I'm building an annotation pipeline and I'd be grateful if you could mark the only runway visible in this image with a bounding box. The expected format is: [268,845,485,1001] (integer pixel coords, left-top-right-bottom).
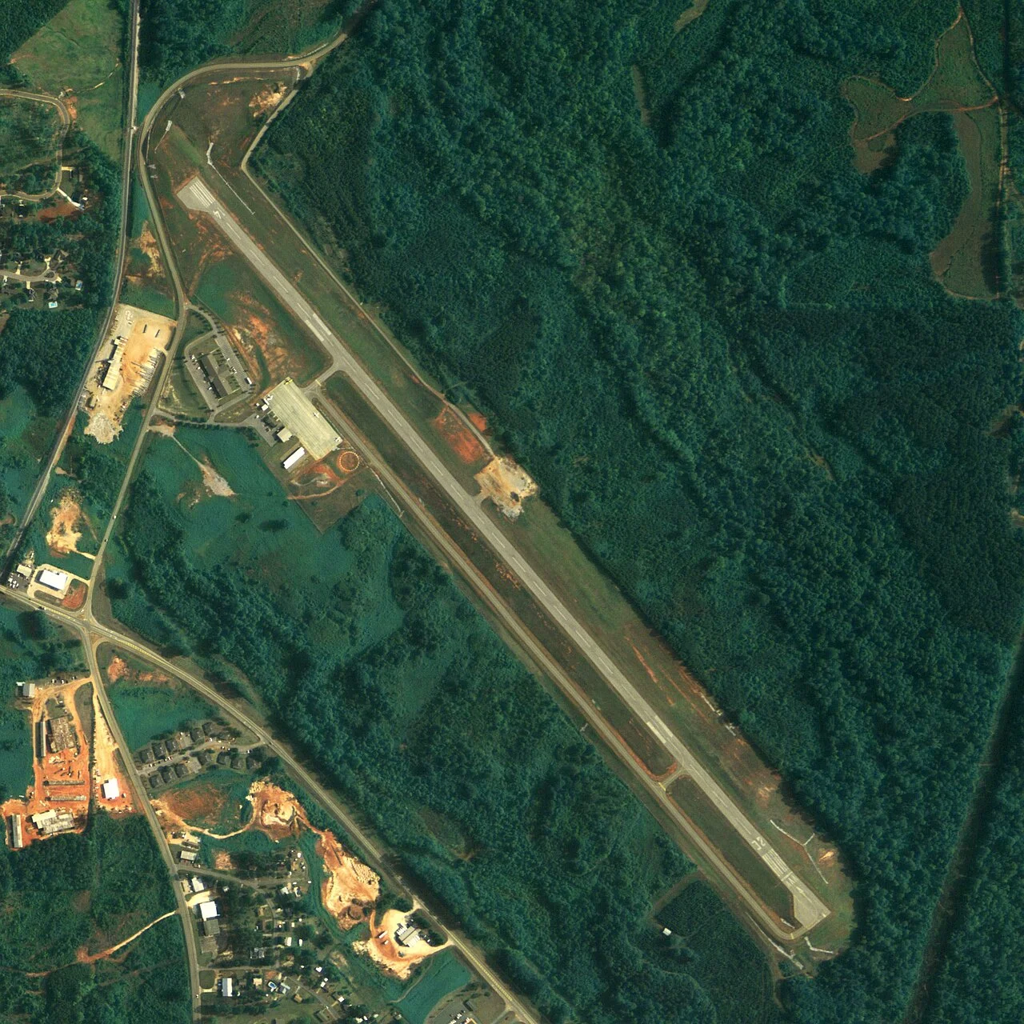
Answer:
[177,177,831,929]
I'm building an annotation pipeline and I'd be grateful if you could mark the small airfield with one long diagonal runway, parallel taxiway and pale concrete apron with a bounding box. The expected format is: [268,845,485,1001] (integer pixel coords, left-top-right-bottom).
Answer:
[177,177,831,938]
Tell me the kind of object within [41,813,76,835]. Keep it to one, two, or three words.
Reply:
building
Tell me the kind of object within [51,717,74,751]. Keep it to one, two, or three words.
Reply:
building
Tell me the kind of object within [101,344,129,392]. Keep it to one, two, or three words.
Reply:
shed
